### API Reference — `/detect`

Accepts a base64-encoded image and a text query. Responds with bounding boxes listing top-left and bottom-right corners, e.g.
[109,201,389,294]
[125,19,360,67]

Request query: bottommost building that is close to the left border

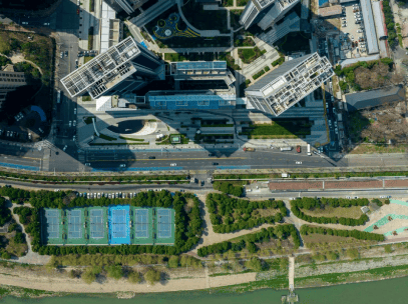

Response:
[0,68,27,125]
